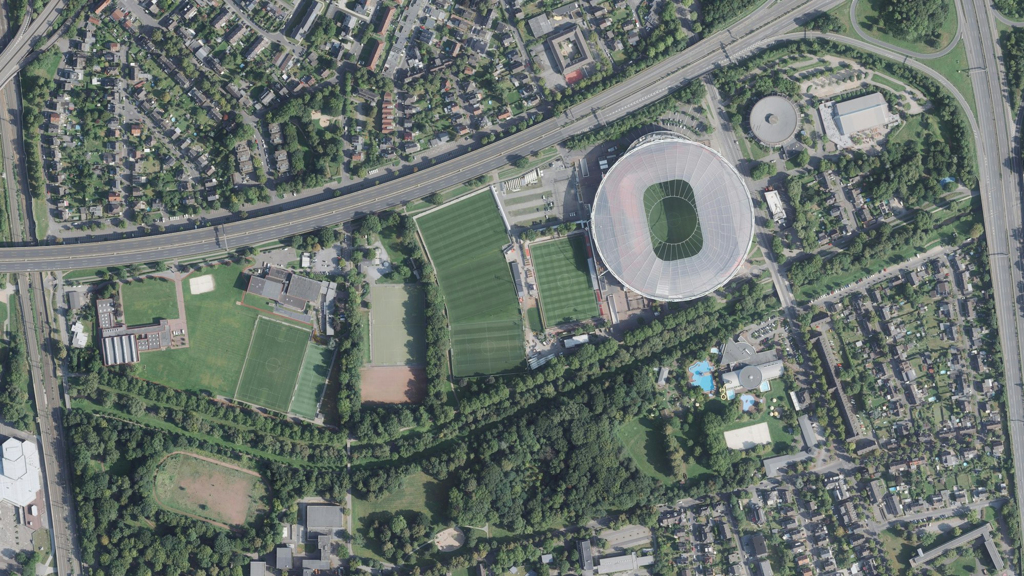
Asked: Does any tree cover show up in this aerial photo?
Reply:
Yes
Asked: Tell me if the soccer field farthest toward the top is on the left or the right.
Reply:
right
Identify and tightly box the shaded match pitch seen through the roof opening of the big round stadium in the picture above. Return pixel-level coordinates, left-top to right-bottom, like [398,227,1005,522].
[645,179,705,261]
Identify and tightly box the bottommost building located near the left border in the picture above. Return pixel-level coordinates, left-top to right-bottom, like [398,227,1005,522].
[32,528,51,564]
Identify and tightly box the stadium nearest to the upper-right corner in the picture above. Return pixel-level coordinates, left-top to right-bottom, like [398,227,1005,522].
[592,138,756,302]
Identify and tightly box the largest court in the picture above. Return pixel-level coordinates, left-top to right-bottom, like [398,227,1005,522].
[724,422,772,450]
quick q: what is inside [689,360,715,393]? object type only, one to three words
swimming pool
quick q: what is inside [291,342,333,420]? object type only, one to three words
soccer field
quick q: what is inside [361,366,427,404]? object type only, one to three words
sports field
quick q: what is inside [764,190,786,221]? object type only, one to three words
building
